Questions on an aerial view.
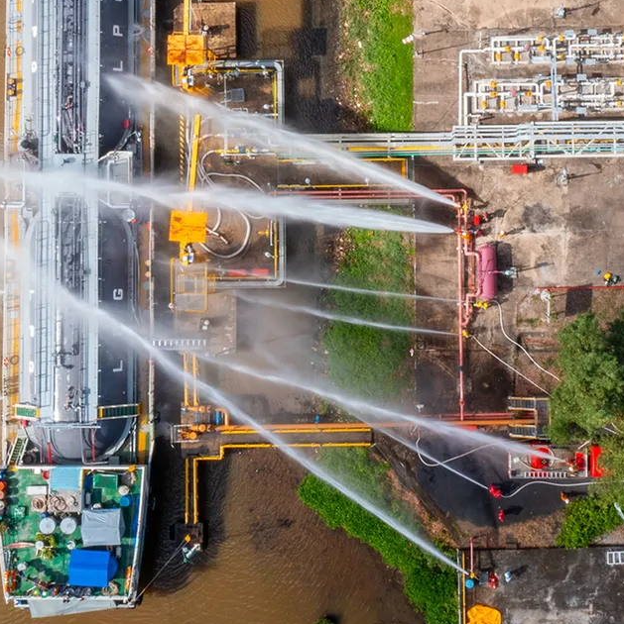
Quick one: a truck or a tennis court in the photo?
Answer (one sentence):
There is a truck in the scene.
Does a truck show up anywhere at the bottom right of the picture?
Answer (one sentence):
Yes, a truck appears at the bottom right of the picture.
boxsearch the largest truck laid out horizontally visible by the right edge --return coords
[509,440,605,479]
